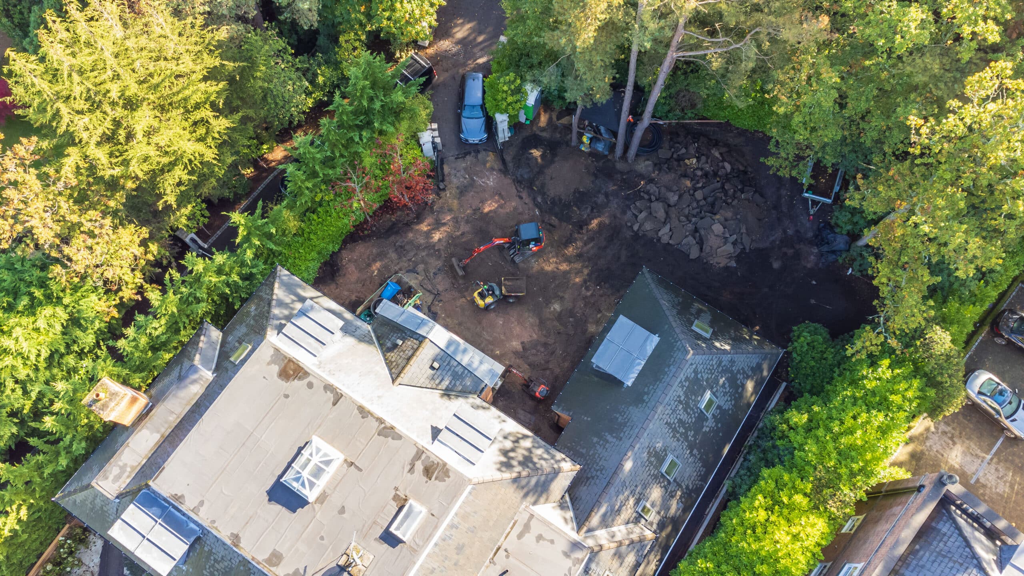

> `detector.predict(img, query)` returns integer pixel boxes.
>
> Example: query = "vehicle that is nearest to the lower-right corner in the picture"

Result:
[957,373,1024,447]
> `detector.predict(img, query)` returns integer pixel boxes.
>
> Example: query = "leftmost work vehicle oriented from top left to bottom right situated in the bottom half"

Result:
[505,368,551,406]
